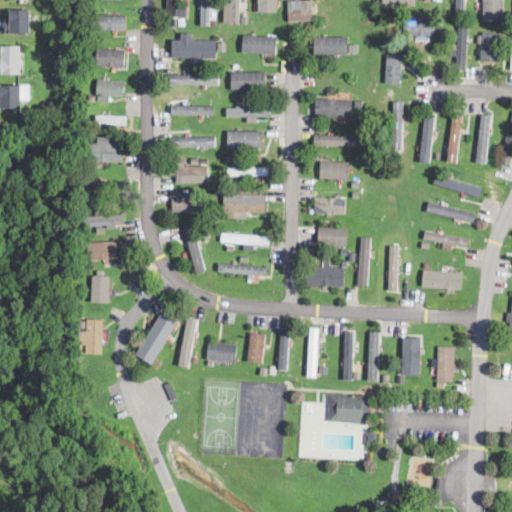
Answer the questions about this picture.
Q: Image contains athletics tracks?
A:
No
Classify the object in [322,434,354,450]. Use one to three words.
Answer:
swimming pool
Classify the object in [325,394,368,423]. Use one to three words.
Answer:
building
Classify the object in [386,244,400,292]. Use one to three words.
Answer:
house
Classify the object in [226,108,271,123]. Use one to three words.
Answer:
house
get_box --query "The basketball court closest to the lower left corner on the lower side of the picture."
[203,380,240,454]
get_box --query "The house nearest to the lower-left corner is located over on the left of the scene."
[79,320,108,356]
